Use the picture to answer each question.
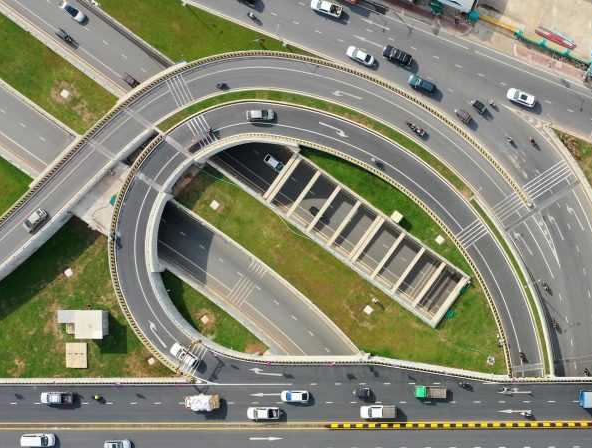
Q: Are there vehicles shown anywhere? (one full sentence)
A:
Yes, a vehicle can be made out from above.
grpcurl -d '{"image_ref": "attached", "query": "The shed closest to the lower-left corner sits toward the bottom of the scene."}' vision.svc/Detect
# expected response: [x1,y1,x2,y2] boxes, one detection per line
[58,309,116,339]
